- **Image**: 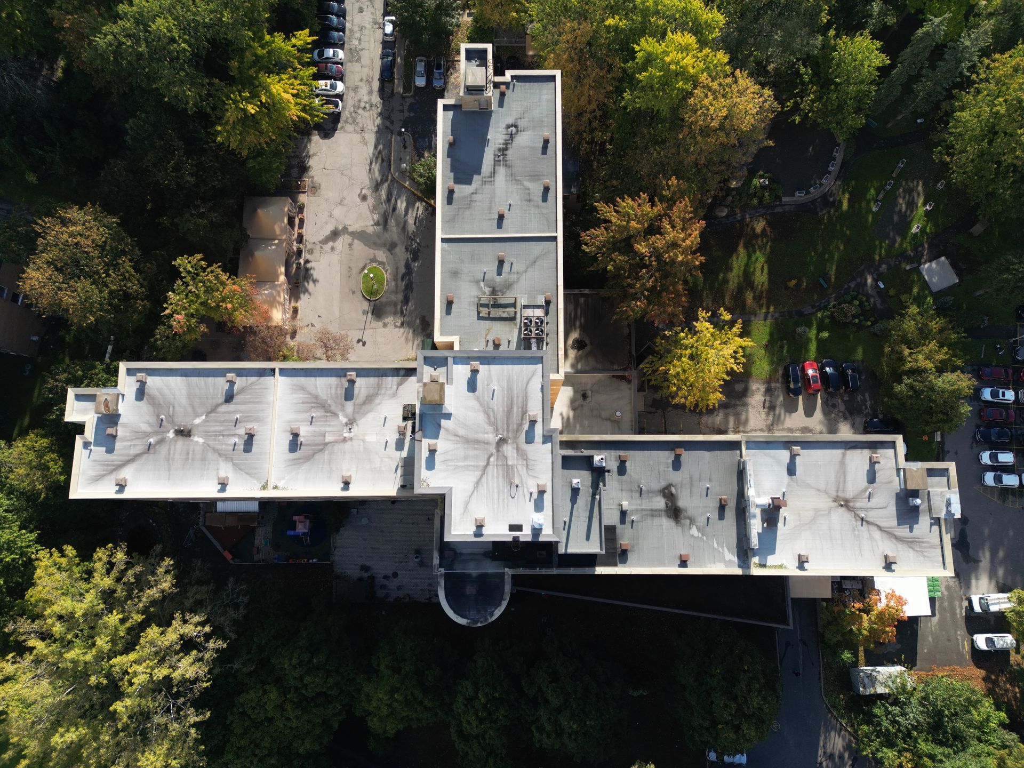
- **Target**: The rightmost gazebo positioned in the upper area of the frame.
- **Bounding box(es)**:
[909,255,960,298]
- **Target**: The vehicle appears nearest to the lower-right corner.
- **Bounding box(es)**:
[975,633,1016,652]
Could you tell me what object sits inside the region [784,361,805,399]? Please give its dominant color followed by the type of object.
black car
